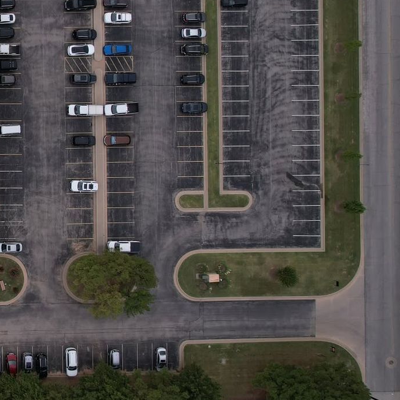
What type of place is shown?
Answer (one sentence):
The area seen from above is a parking lot.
